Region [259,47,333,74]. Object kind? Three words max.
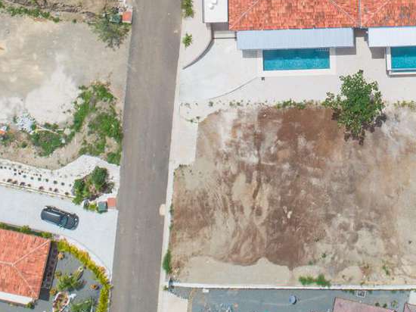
swimming pool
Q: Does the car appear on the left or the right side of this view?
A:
left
